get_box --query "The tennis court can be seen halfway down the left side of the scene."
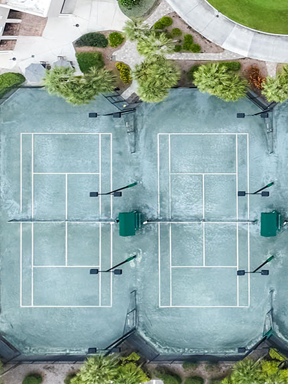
[0,88,135,356]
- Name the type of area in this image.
sports ground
